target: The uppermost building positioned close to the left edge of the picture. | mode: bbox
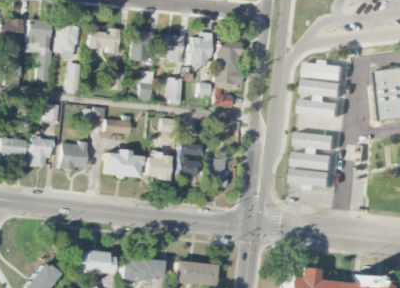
[0,17,25,40]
